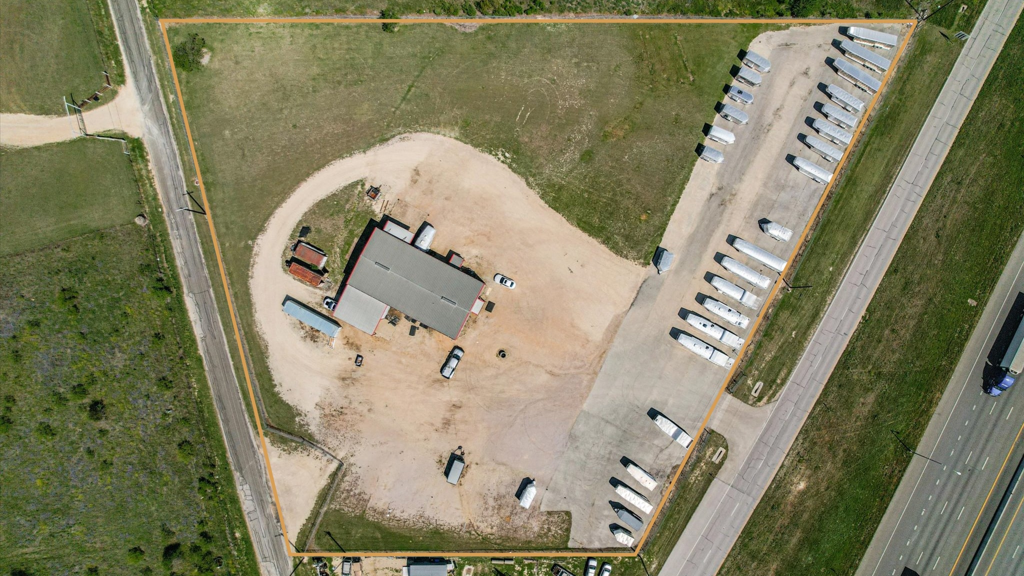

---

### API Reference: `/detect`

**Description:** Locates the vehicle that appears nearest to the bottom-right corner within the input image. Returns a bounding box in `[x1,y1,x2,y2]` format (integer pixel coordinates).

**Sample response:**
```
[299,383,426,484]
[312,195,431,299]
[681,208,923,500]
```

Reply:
[987,321,1024,397]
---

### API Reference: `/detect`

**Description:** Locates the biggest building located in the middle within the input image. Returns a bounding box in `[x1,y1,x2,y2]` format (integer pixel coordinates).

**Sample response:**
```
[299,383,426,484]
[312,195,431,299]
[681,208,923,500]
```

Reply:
[332,220,485,340]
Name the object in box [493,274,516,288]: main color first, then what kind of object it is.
white car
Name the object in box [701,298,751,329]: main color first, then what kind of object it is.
white trailer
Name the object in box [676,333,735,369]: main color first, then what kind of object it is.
white trailer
